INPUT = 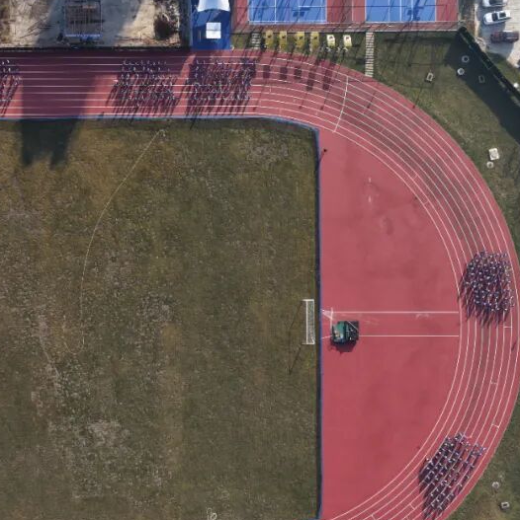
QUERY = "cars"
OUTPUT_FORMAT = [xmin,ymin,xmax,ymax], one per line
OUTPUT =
[490,28,519,43]
[481,0,509,7]
[484,9,511,24]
